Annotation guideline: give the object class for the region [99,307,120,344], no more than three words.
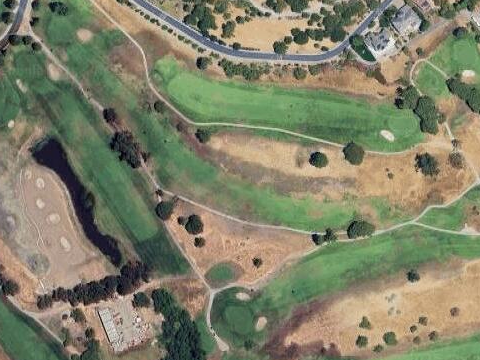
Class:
shed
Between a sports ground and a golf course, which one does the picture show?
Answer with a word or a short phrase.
golf course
